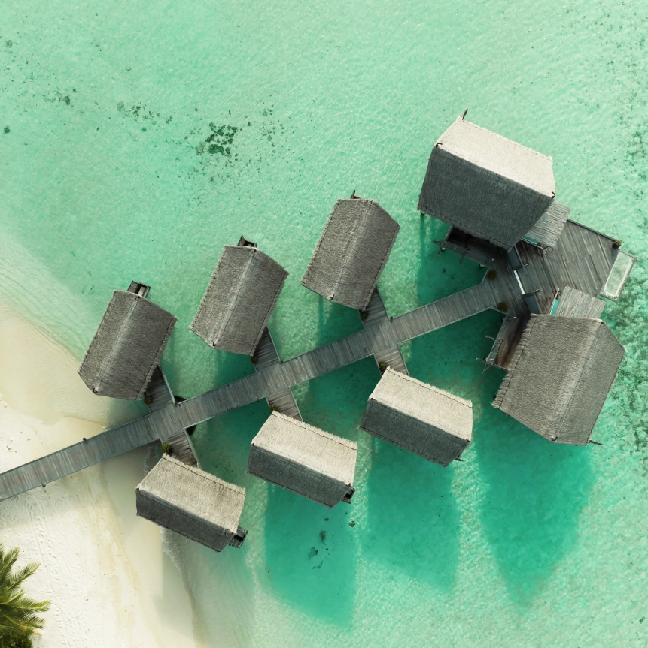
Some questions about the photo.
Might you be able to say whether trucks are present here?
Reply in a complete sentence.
No, no truck is visible in the scene.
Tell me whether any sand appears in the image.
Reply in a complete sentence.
Yes, there's sand in this view.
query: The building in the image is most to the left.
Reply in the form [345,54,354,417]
[78,281,177,400]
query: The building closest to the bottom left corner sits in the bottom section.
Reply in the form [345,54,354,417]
[132,453,248,552]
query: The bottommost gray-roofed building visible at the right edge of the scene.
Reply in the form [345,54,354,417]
[474,313,624,444]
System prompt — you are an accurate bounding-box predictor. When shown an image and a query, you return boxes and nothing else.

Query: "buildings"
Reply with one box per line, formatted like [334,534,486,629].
[363,366,475,465]
[474,313,624,444]
[190,237,289,356]
[301,190,401,307]
[132,453,248,552]
[78,281,177,400]
[418,108,561,267]
[248,410,358,508]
